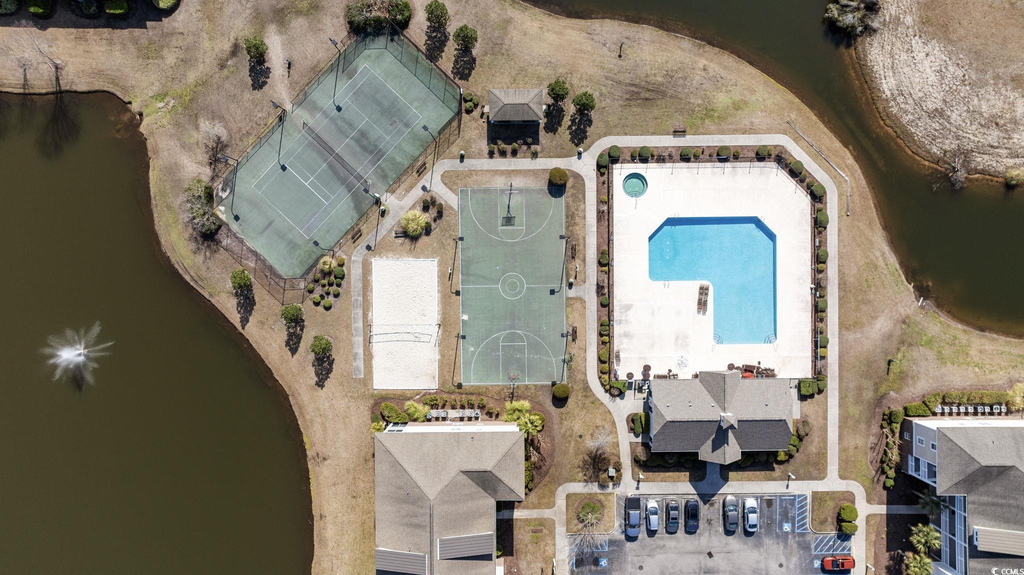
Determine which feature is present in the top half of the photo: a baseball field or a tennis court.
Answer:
tennis court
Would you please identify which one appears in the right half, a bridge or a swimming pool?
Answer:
swimming pool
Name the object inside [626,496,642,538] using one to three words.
vehicle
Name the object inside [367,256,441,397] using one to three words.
sports court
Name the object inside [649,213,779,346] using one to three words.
swimming pool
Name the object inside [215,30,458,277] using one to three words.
tennis court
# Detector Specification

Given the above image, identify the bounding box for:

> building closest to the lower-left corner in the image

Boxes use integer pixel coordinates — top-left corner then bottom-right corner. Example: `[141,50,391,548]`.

[373,422,525,575]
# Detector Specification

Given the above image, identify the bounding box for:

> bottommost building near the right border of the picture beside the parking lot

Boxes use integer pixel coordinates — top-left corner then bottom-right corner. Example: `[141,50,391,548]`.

[903,418,1024,575]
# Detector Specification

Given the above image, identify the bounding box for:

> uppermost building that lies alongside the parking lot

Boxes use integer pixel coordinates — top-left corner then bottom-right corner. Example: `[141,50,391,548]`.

[649,371,796,463]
